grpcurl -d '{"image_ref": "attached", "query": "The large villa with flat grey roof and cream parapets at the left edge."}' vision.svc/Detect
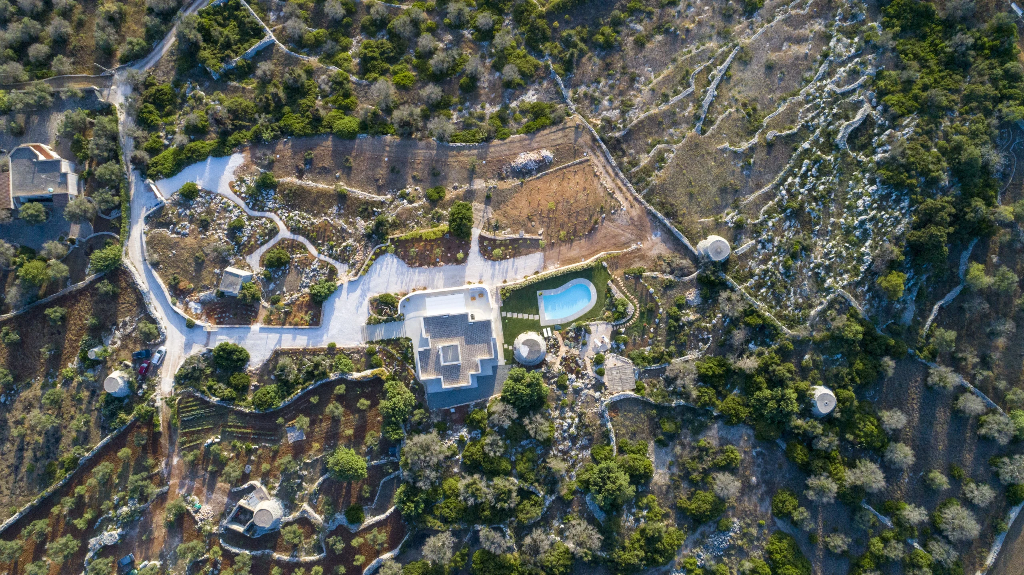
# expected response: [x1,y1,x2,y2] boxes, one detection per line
[0,143,87,210]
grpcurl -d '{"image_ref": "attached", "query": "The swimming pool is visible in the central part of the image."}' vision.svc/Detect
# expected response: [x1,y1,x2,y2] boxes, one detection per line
[537,278,597,326]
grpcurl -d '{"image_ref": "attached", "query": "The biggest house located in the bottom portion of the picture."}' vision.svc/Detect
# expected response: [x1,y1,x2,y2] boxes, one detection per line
[418,312,499,388]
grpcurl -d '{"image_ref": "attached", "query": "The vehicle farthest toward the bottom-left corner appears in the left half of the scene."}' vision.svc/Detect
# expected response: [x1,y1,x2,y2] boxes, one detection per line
[116,551,137,567]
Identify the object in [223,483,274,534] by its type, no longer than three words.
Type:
building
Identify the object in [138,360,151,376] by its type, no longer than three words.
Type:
vehicle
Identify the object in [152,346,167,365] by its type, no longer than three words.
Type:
car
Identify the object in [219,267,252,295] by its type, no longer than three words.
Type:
shed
